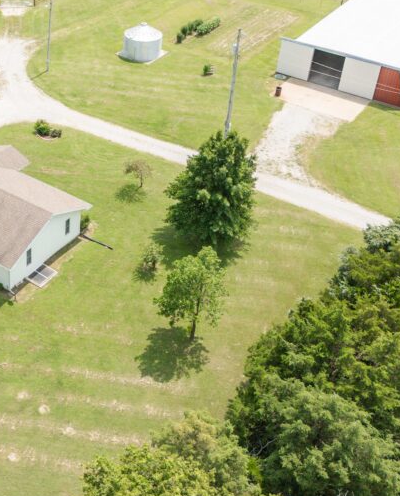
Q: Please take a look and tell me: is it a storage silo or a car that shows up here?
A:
storage silo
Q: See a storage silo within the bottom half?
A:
No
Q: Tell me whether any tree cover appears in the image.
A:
Yes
